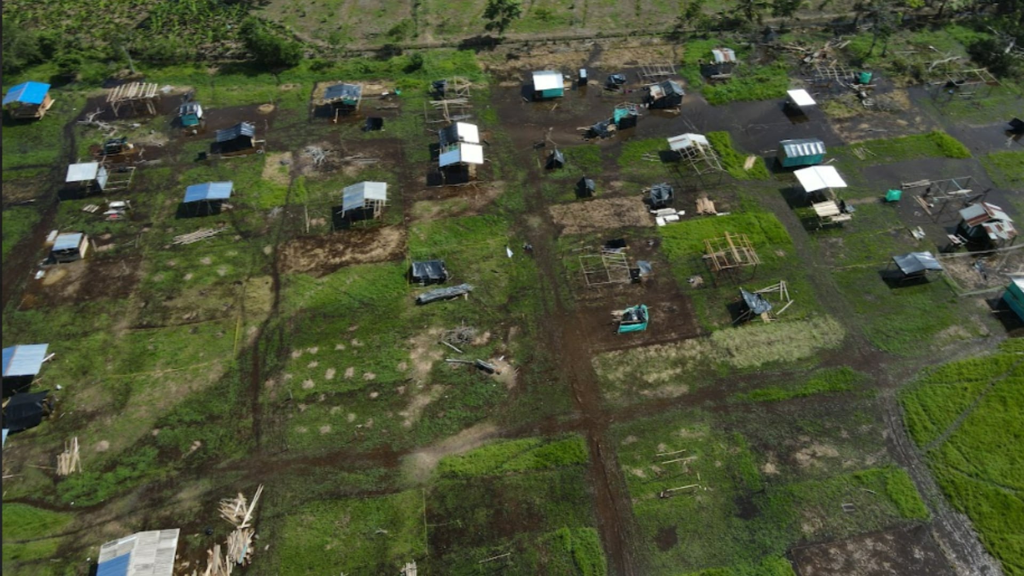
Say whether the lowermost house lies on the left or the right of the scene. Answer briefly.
left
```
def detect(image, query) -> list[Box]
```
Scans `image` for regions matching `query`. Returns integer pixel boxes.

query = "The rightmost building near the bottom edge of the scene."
[97,531,179,576]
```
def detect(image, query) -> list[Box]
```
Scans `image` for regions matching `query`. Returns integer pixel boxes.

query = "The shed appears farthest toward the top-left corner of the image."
[3,81,56,118]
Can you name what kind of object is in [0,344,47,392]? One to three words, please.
house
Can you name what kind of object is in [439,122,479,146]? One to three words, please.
house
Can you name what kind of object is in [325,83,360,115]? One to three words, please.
shed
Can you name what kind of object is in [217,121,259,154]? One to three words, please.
shed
